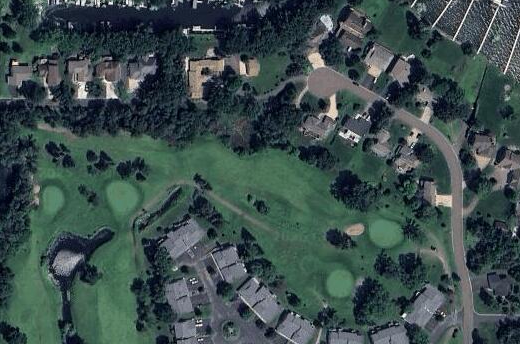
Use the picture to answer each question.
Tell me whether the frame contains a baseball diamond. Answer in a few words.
No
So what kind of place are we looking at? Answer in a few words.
golf course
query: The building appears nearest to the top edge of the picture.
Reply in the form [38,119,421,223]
[339,6,371,49]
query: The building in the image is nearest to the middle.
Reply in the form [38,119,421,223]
[300,111,336,139]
